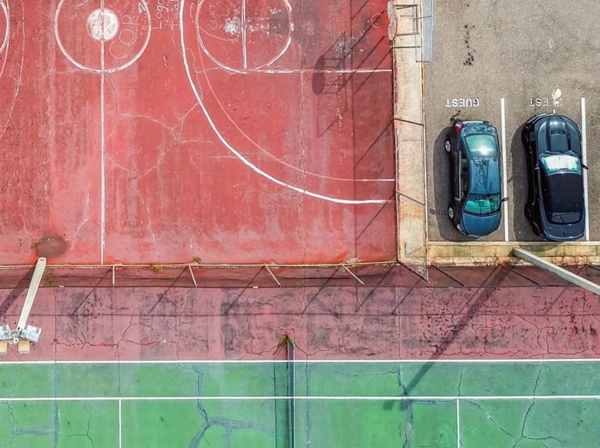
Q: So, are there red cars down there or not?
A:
No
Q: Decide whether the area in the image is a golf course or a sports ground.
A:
sports ground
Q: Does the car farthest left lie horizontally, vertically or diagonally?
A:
vertically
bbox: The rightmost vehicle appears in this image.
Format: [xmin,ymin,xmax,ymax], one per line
[521,113,591,242]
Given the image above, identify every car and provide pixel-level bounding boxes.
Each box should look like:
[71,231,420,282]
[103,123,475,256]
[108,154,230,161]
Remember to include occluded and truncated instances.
[521,113,591,242]
[443,116,511,237]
